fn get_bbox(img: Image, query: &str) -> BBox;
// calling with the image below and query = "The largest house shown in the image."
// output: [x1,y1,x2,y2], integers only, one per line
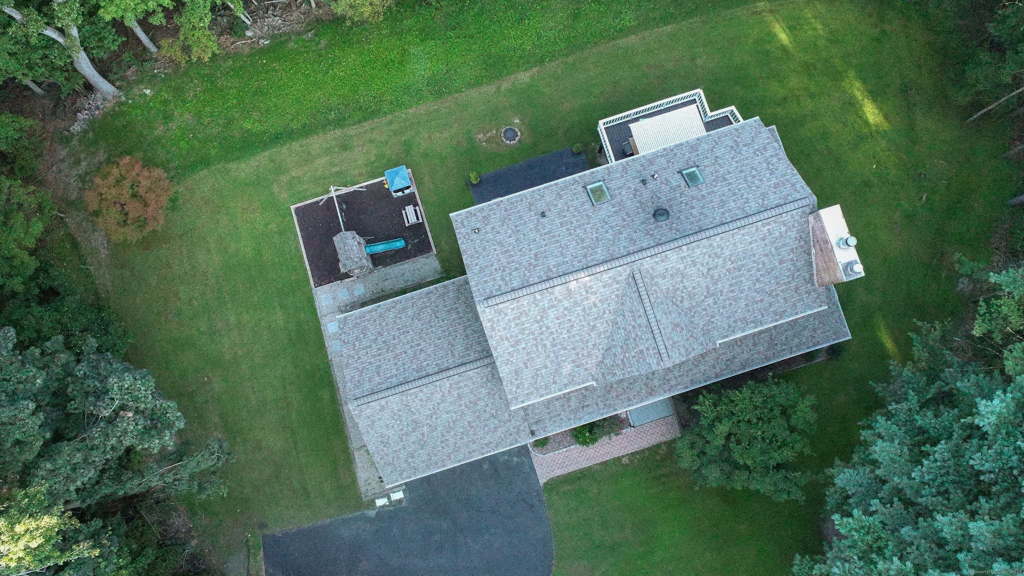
[335,115,865,490]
